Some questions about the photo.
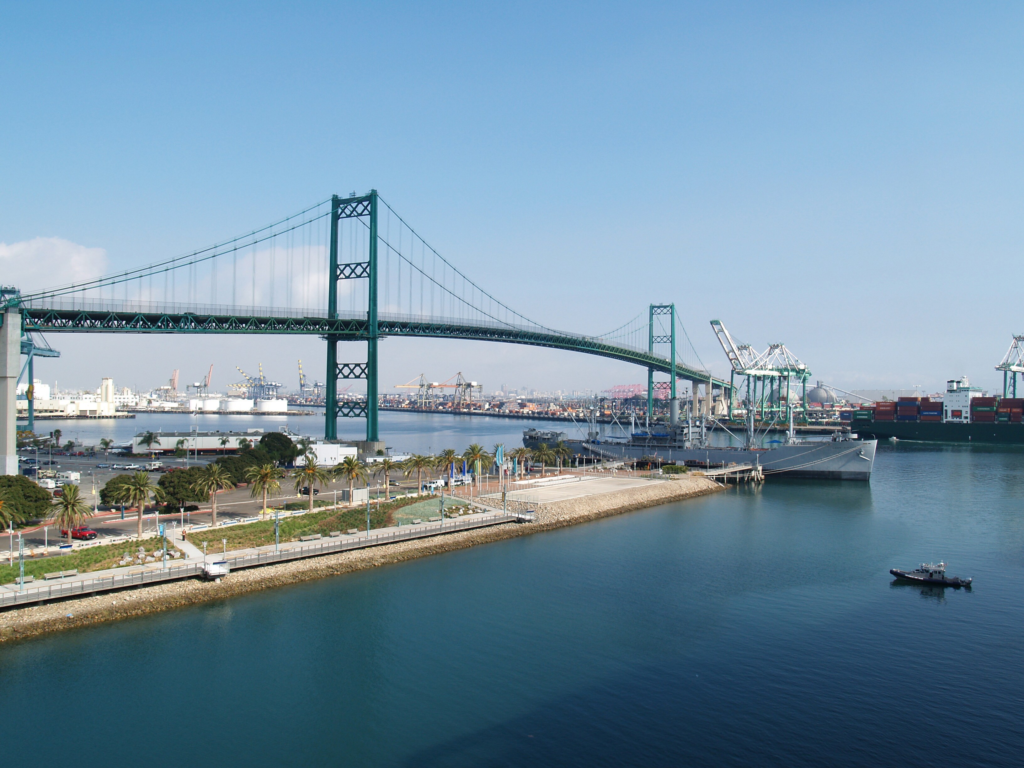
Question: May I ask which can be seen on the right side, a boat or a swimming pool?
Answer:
boat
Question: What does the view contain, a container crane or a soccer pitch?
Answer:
container crane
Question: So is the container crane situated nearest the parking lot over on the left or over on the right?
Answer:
left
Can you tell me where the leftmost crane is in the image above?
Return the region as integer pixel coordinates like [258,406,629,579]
[0,279,57,436]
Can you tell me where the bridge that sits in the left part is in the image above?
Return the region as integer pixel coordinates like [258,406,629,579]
[0,187,763,481]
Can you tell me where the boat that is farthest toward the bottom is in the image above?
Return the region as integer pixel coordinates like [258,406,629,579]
[894,555,979,586]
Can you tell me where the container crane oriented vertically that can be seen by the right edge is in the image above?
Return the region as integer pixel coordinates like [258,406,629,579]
[1001,323,1024,413]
